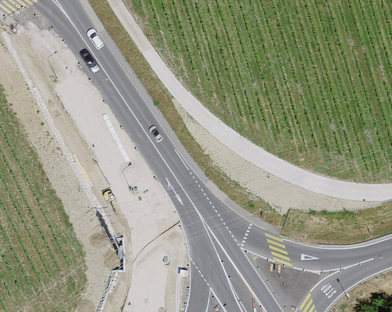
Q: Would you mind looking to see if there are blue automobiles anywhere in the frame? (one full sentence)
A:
No, no blue automobile is visible in the scene.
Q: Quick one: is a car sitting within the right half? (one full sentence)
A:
No, the scene shows no car within the right half.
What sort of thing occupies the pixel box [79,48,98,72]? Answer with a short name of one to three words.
car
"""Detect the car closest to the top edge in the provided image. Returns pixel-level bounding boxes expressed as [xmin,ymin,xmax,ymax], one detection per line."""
[86,27,104,51]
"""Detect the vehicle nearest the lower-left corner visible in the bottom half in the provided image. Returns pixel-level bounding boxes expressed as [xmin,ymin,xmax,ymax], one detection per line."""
[103,188,116,212]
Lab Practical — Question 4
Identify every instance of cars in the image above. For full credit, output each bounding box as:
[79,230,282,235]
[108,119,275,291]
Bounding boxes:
[148,124,163,144]
[86,27,104,51]
[79,48,98,72]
